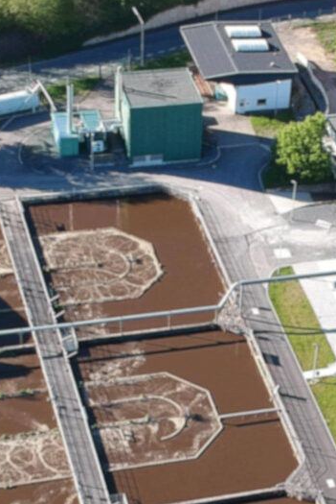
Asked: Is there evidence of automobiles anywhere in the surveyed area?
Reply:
No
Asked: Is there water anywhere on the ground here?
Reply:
Yes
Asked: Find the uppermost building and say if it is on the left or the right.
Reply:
right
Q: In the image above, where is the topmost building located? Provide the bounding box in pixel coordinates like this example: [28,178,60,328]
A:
[180,21,298,108]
